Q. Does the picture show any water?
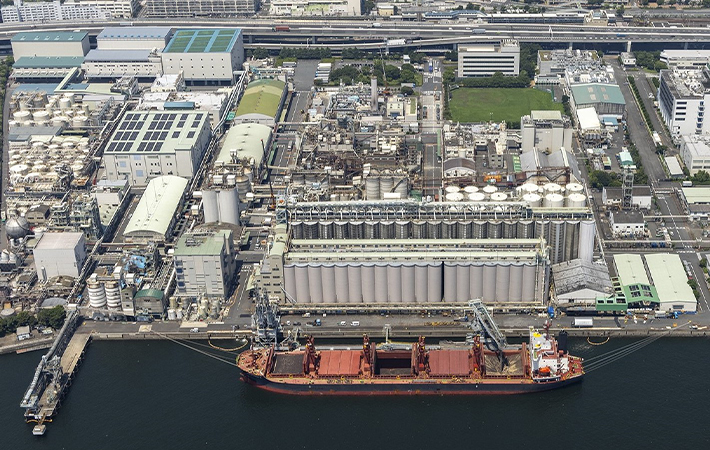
Yes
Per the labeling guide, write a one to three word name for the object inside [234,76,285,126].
building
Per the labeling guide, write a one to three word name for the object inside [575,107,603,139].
shed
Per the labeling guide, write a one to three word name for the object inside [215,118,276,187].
building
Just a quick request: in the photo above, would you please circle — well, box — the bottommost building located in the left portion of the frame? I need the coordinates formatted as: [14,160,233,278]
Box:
[122,173,192,248]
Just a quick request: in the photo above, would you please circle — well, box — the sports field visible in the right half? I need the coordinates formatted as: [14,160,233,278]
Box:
[449,86,564,124]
